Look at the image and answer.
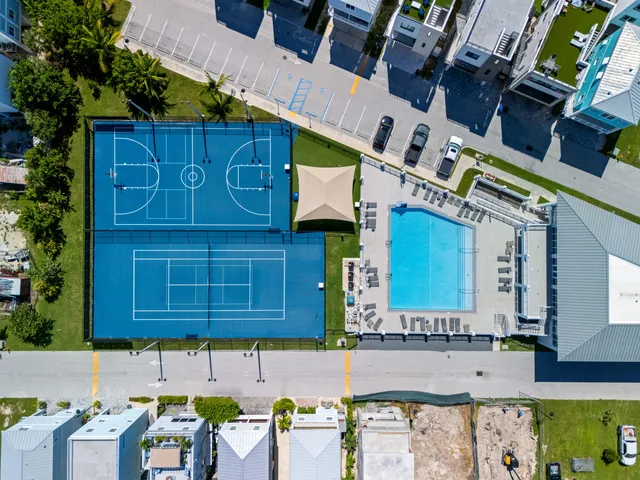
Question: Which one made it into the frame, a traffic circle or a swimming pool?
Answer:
swimming pool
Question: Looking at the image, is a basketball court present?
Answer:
Yes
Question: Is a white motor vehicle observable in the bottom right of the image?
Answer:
Yes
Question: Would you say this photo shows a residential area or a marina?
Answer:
residential area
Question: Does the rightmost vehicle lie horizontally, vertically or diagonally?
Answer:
vertically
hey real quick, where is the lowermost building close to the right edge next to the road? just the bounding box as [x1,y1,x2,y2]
[537,190,640,362]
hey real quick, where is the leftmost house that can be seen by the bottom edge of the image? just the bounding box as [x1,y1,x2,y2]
[1,400,81,480]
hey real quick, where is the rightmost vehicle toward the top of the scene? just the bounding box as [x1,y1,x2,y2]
[437,138,462,179]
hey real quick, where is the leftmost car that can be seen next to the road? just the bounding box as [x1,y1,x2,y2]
[372,118,394,151]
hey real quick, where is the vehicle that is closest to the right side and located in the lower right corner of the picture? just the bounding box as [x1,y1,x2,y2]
[617,425,638,464]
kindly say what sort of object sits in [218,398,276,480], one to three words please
house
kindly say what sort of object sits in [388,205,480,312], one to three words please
swimming pool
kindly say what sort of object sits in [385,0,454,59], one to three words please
house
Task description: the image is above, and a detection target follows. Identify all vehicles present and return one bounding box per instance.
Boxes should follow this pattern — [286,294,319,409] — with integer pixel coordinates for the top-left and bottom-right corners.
[617,425,638,464]
[502,449,521,480]
[437,138,462,179]
[544,462,562,480]
[372,118,394,151]
[404,126,429,166]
